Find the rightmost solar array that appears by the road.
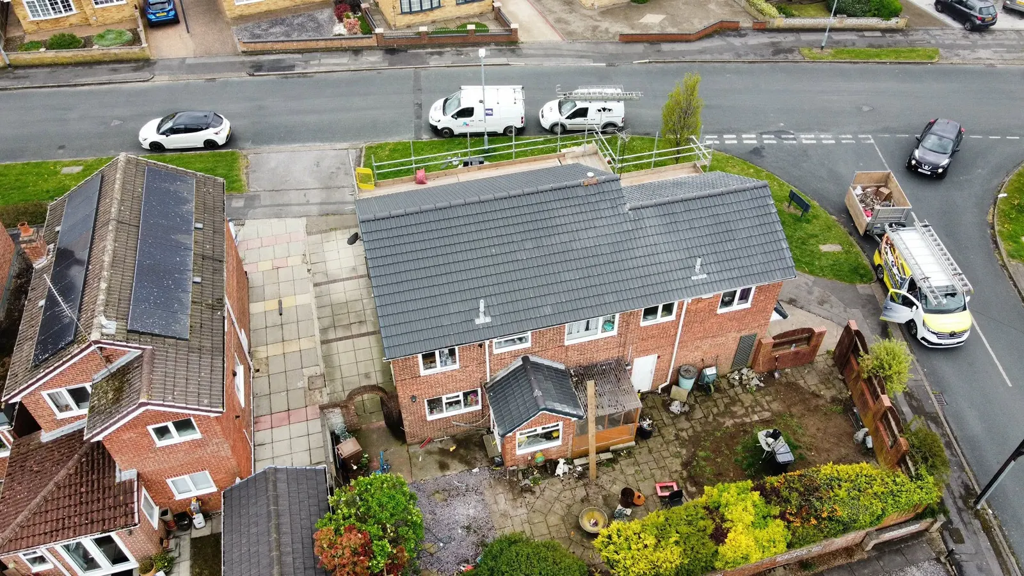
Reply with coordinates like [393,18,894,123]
[130,164,197,338]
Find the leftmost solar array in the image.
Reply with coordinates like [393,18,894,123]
[25,172,98,368]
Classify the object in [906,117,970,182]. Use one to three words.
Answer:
car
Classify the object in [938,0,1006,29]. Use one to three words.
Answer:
car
